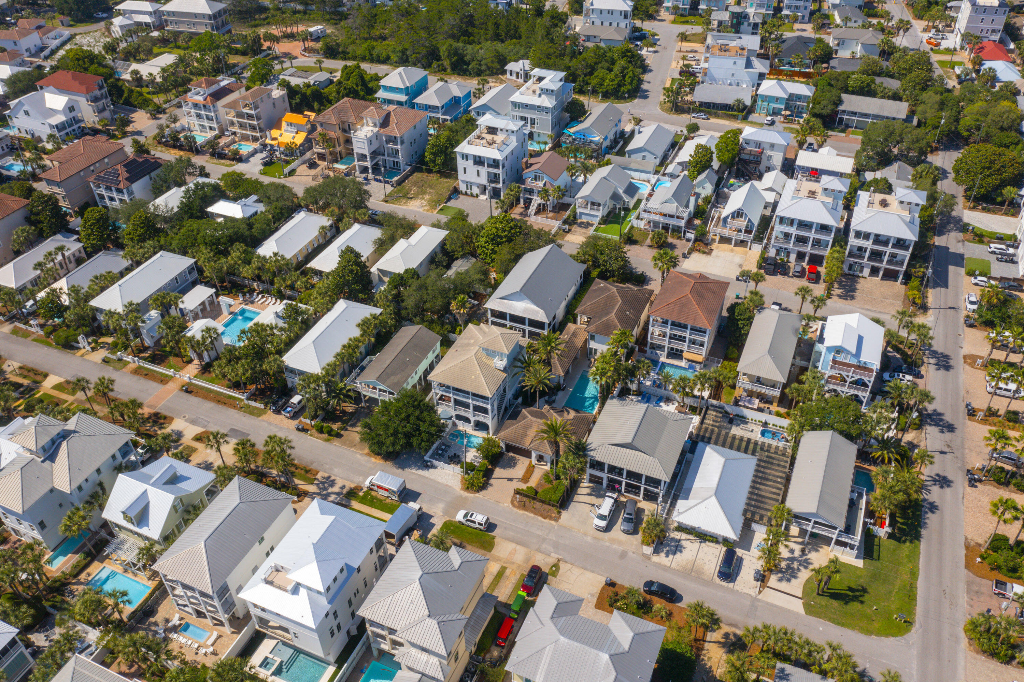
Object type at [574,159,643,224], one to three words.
house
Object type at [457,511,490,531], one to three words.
car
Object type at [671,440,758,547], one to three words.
house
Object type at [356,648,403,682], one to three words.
swimming pool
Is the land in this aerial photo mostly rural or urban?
urban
